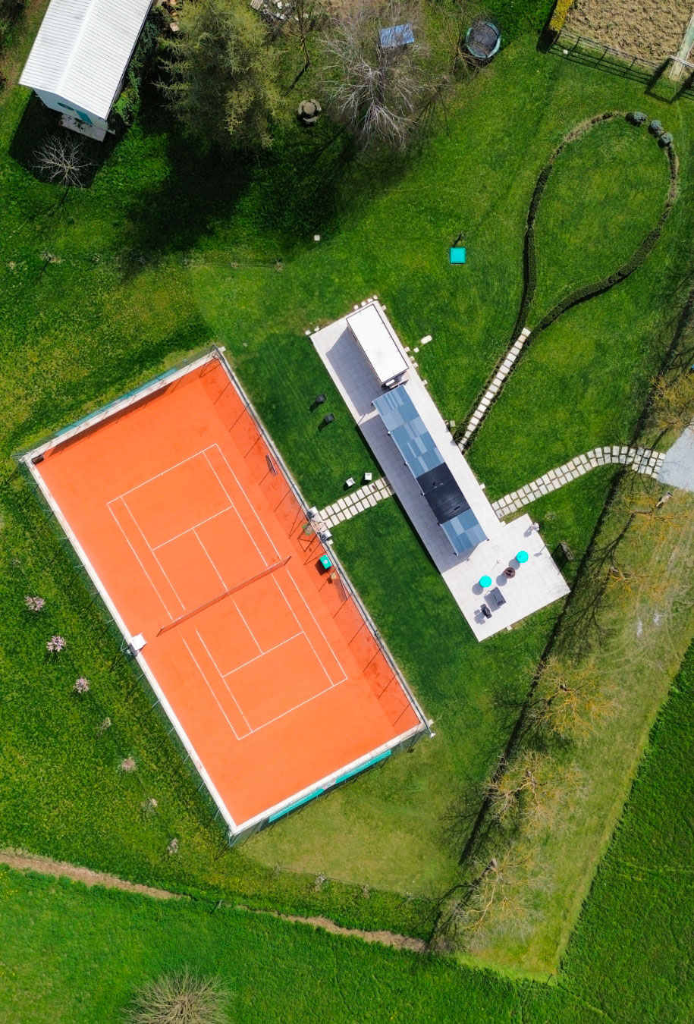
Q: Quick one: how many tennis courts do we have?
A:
1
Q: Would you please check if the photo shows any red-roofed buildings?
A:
No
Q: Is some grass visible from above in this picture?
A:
Yes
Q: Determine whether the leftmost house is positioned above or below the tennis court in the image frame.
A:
above it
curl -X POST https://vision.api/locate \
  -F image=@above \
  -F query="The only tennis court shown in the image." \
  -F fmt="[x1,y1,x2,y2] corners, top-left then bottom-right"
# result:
[24,348,431,834]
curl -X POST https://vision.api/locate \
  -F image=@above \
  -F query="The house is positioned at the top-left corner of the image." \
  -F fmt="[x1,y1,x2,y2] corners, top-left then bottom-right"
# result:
[19,0,163,131]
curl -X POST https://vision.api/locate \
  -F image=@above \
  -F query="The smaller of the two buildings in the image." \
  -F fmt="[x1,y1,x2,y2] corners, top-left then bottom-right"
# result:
[346,305,408,387]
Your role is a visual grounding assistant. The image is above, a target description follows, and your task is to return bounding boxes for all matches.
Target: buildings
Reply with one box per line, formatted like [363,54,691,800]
[19,0,163,131]
[346,305,408,387]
